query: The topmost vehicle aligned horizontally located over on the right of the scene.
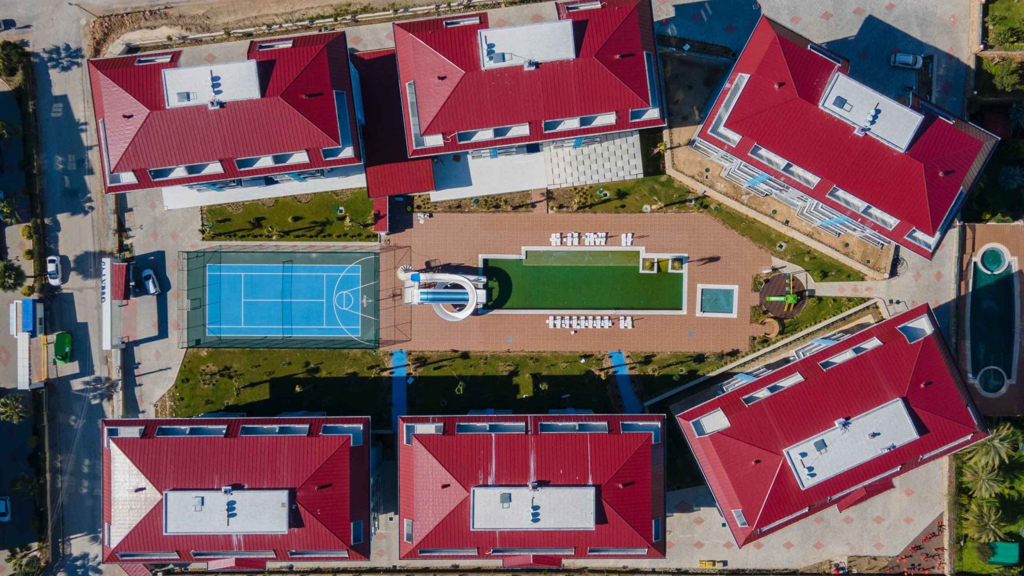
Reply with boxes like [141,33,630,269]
[890,54,923,69]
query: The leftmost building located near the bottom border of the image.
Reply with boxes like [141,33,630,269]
[100,410,382,570]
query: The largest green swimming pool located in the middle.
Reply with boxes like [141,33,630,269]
[478,247,688,314]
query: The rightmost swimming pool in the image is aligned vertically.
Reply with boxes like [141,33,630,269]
[966,242,1021,399]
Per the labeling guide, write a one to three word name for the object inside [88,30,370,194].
building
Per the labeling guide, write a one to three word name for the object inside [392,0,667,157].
building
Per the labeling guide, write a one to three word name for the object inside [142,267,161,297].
car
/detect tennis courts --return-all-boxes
[188,252,379,348]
